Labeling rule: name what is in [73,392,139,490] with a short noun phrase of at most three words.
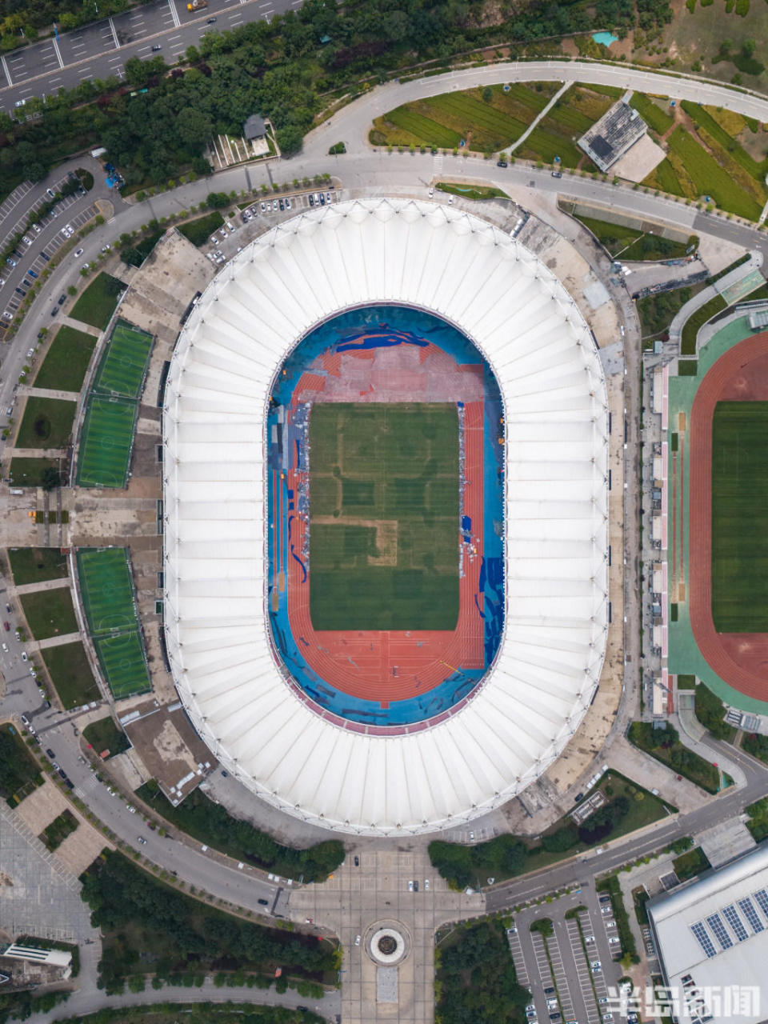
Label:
soccer field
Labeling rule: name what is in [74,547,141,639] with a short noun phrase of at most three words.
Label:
soccer field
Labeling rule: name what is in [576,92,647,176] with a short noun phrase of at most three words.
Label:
building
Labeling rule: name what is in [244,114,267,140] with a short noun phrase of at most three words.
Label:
building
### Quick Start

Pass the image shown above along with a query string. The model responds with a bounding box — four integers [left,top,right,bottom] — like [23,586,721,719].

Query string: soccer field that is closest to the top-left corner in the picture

[88,315,154,398]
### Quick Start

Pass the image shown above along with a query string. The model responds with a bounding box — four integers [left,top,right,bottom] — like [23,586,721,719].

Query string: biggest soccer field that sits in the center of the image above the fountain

[309,402,470,630]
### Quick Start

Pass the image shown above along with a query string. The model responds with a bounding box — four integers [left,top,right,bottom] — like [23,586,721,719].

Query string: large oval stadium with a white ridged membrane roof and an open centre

[163,197,610,837]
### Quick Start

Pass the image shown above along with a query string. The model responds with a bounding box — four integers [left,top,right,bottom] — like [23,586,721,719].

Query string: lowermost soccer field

[90,630,152,702]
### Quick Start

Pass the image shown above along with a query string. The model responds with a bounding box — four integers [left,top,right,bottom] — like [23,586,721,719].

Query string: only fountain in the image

[364,922,411,970]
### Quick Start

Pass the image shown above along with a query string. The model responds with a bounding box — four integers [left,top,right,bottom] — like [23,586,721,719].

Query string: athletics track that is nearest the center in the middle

[269,315,504,724]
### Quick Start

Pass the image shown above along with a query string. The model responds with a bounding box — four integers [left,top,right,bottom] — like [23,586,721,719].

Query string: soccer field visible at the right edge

[712,401,768,633]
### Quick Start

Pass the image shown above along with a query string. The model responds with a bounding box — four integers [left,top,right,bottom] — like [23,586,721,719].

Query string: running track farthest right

[668,318,768,715]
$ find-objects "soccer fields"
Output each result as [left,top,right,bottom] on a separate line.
[73,392,139,490]
[74,547,141,639]
[309,402,470,630]
[90,630,152,702]
[712,401,768,633]
[88,315,154,398]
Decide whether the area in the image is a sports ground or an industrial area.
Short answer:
sports ground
